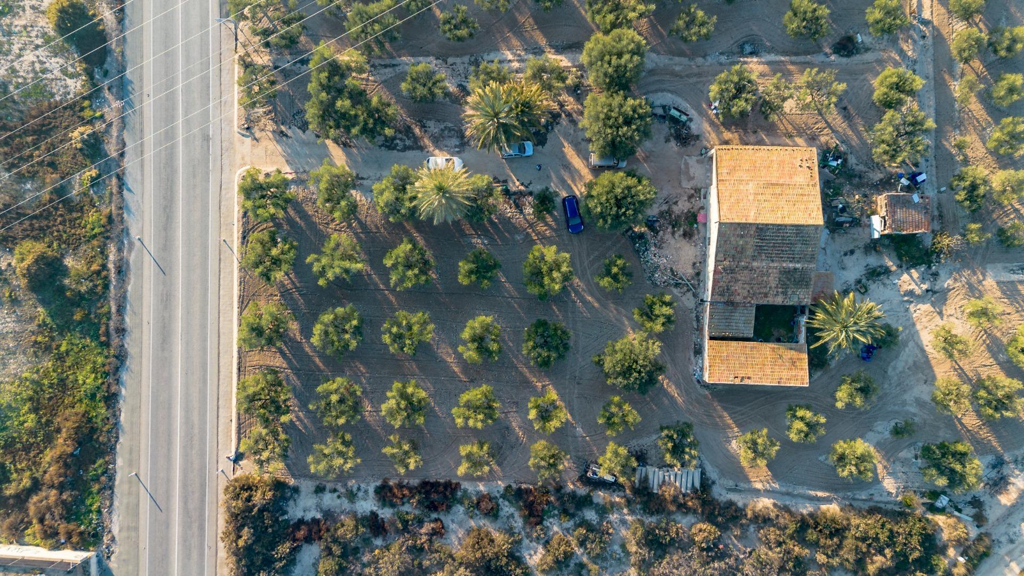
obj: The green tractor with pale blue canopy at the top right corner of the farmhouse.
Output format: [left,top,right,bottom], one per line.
[817,149,849,171]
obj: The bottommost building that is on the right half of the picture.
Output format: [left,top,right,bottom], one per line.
[696,340,810,388]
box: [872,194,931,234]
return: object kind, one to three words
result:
shed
